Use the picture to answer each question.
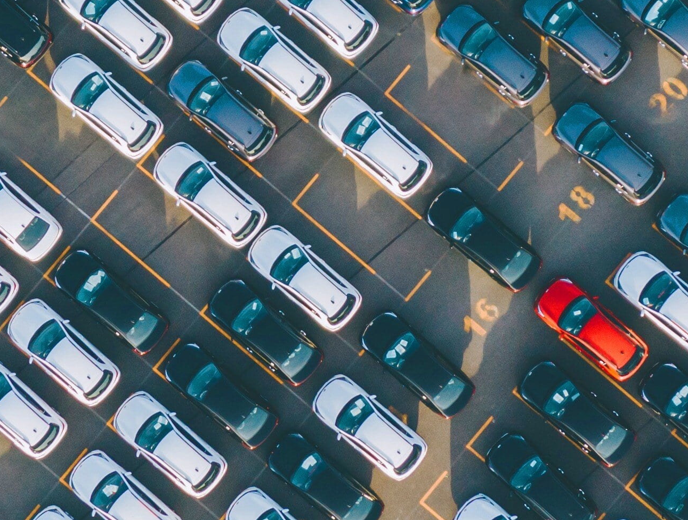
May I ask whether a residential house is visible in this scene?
No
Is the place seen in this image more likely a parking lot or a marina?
parking lot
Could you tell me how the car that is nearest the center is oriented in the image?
on a diagonal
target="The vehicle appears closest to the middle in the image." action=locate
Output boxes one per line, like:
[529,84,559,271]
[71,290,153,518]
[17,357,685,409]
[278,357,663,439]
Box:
[249,227,364,332]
